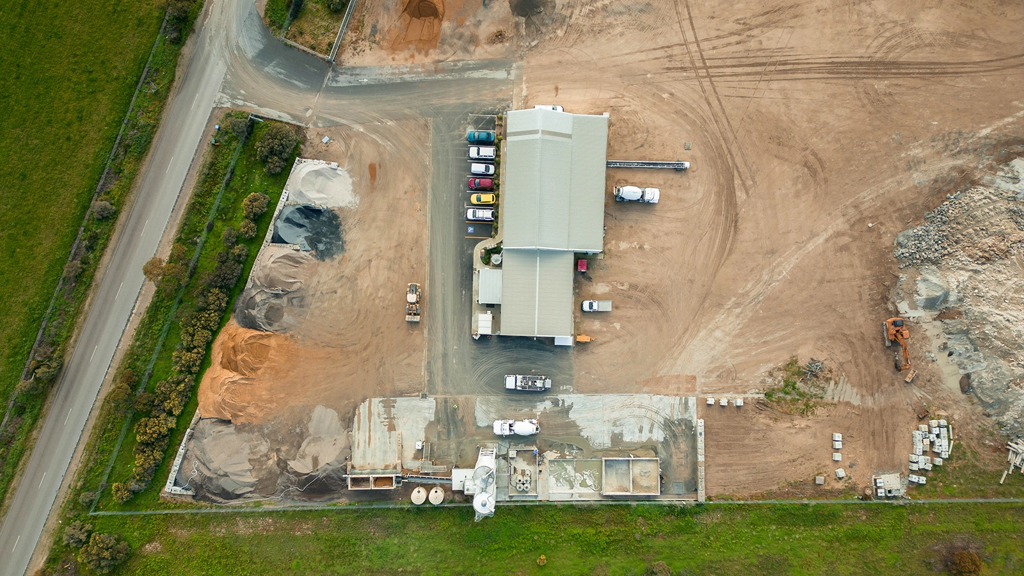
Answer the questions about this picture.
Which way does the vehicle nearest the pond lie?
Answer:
from left to right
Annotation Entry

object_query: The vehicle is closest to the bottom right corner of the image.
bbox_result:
[880,317,911,372]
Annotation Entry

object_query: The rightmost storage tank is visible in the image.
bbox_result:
[601,454,660,495]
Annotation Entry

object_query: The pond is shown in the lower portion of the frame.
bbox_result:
[548,459,601,493]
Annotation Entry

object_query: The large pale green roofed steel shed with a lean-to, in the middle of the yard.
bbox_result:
[503,105,610,251]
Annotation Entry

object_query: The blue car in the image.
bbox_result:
[467,129,495,142]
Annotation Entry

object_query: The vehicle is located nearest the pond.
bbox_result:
[495,420,542,440]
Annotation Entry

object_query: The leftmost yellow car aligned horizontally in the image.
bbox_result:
[470,192,495,205]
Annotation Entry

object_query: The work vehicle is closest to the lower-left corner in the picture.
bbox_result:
[404,284,420,322]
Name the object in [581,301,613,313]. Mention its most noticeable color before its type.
white vehicle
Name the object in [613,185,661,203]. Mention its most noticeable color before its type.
white vehicle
